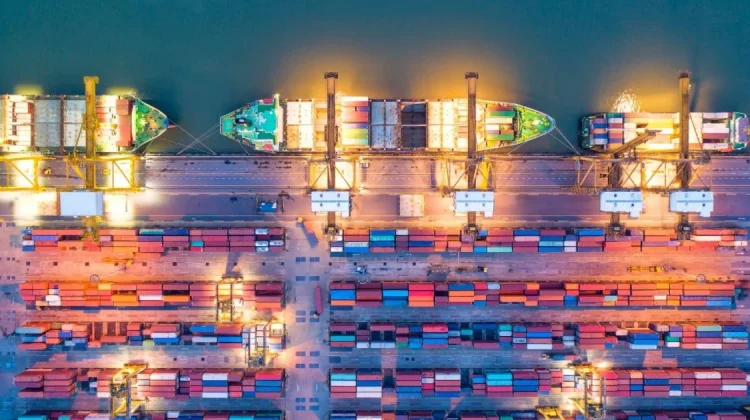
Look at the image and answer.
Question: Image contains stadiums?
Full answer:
No, the photo shows no stadium.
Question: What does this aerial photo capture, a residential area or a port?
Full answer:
What you see here is a port.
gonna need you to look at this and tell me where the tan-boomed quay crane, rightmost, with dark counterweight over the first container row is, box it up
[620,73,715,240]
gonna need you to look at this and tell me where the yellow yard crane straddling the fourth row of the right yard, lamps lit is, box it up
[568,362,611,420]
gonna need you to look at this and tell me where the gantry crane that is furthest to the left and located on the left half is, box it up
[0,126,77,213]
